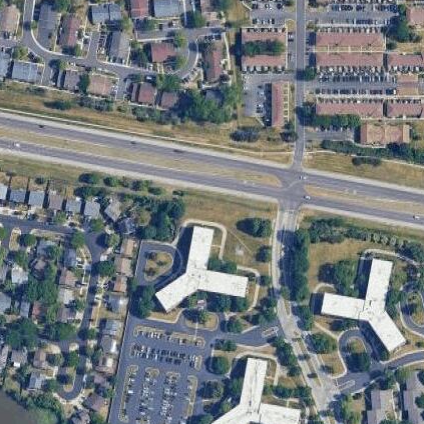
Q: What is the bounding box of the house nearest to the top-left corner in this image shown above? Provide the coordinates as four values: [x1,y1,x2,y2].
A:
[0,4,21,35]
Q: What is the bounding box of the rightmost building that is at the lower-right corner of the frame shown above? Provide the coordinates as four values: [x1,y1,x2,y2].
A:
[404,371,424,424]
